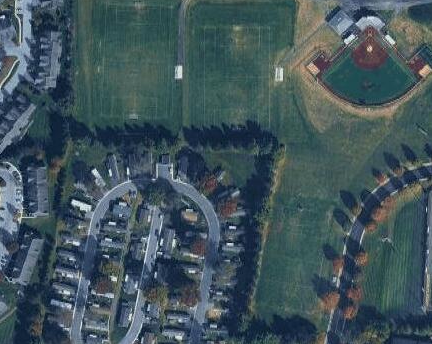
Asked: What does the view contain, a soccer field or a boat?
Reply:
soccer field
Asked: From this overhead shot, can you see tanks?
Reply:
No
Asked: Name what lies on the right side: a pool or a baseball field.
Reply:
baseball field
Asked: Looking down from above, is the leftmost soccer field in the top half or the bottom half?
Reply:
top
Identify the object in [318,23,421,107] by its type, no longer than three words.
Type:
baseball field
